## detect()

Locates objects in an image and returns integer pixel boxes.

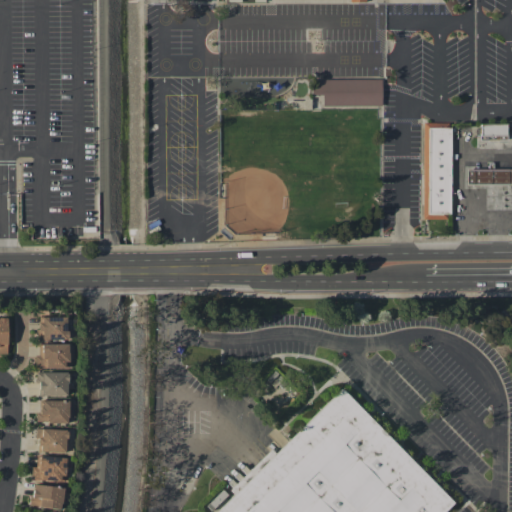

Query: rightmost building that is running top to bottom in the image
[425,122,454,220]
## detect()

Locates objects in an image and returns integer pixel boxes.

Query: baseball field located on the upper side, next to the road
[222,109,382,238]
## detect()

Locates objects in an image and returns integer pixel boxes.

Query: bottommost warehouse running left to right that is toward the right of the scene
[215,394,458,512]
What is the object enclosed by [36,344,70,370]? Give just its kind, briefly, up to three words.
house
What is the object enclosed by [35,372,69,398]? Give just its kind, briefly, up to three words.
house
